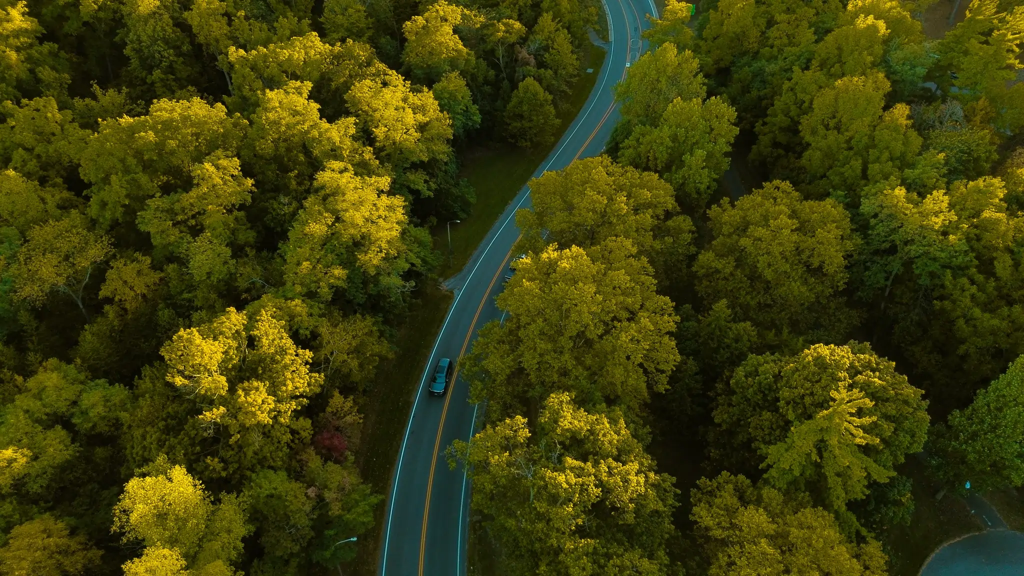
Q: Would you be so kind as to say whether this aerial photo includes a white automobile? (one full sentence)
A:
No, this view has no white automobile in it.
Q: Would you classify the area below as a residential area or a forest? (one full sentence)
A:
The area seen from above is a forest.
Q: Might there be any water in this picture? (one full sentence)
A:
No, the scene doesn't show any water.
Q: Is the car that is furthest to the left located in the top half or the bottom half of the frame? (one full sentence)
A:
It is in the bottom half that the car that is furthest to the left appears.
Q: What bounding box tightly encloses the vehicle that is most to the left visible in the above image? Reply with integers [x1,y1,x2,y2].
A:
[427,359,451,397]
